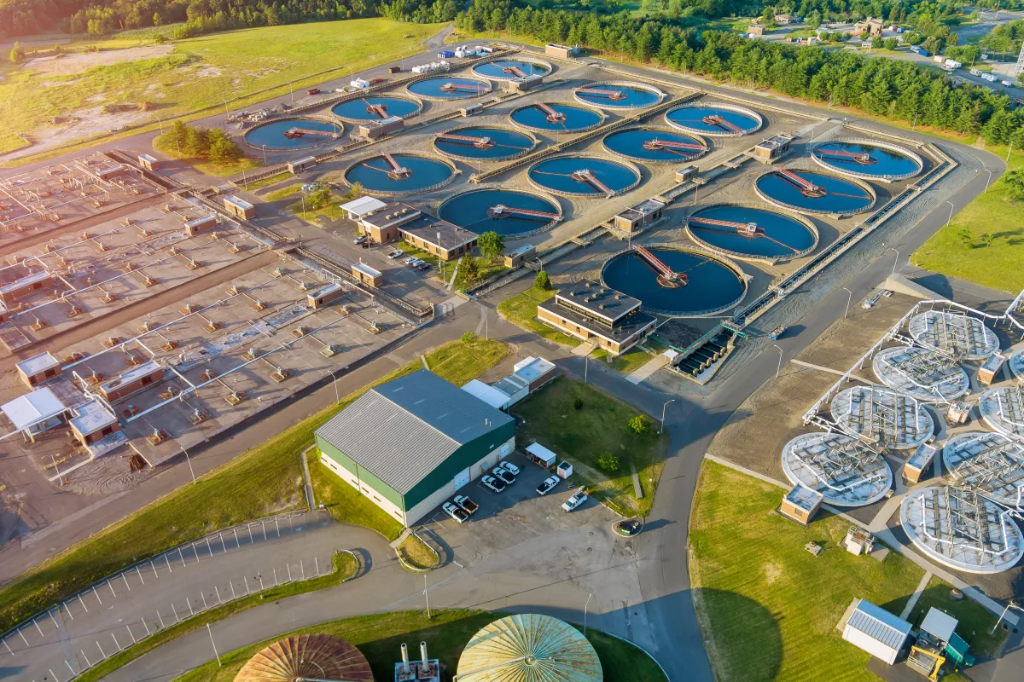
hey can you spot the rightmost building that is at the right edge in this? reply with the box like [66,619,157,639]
[974,352,1006,383]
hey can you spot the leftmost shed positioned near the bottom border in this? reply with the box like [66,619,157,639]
[842,598,913,665]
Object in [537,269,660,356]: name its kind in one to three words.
house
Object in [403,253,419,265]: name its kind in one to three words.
vehicle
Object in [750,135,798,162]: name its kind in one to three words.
building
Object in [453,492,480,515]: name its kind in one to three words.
truck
